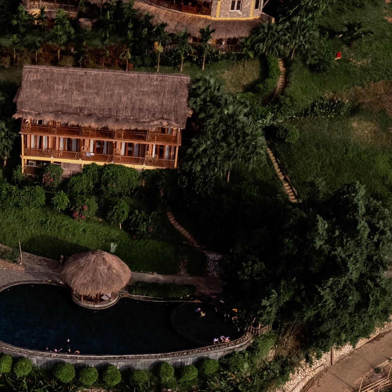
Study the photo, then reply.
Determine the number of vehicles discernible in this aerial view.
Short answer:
0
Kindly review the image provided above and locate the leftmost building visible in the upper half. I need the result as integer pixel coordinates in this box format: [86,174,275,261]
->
[7,62,195,183]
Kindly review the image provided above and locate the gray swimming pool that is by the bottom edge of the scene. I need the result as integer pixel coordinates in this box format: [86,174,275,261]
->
[0,281,258,380]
